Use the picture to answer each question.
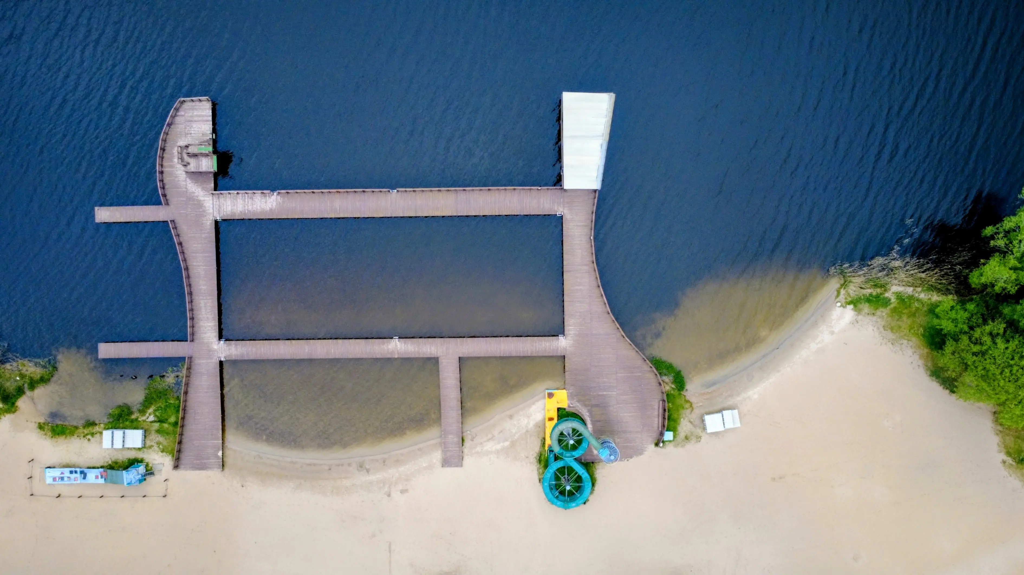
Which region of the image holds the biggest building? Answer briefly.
top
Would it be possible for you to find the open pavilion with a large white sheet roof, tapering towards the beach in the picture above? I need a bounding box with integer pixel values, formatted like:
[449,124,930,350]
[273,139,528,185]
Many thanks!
[561,91,615,190]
